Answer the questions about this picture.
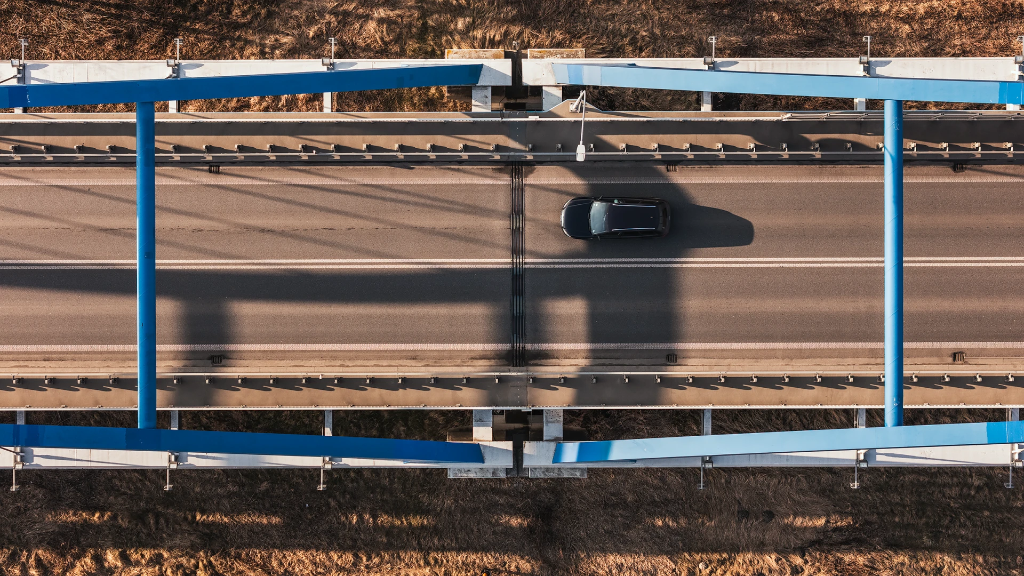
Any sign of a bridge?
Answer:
Yes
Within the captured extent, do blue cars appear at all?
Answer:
No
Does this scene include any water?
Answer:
No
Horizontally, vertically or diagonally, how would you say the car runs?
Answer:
horizontally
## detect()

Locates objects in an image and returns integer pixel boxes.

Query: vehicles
[560,192,670,242]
